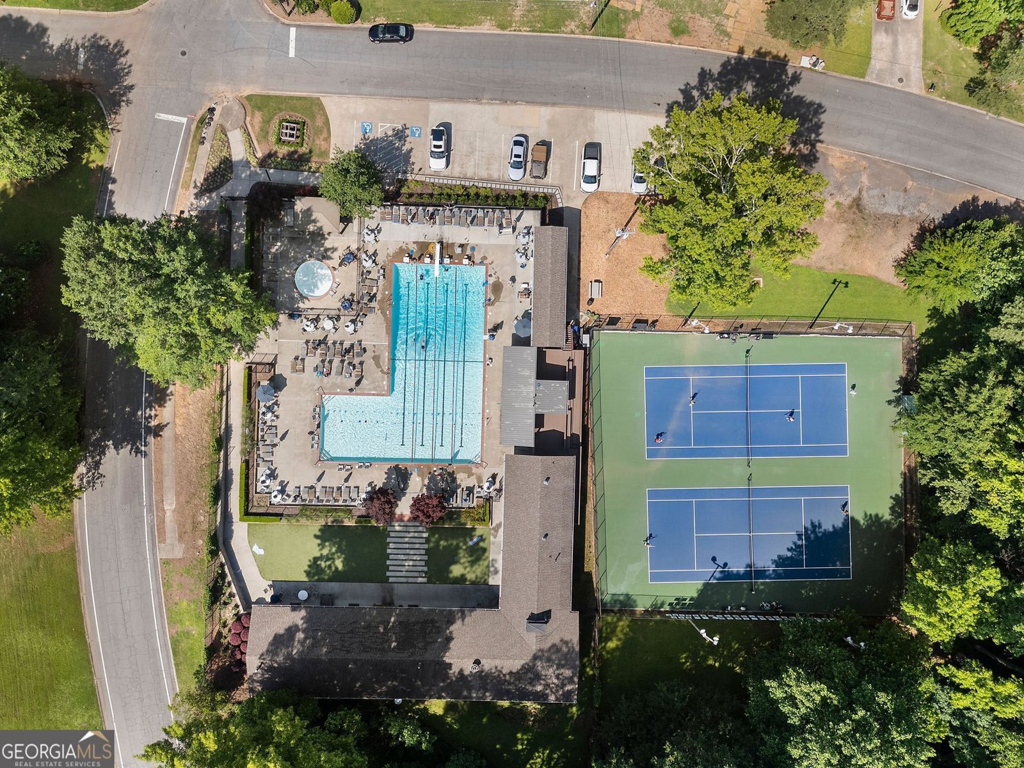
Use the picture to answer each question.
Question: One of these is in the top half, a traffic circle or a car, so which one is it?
car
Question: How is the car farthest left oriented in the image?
from side to side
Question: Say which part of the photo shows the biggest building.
bottom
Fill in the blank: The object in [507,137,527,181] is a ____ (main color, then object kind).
white car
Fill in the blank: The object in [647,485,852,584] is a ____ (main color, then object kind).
blue tennis court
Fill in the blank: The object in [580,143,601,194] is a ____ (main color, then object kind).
white truck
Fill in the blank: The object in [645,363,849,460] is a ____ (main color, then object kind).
blue tennis court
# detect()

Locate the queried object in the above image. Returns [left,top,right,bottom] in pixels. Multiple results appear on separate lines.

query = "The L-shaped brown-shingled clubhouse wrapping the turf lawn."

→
[244,455,581,704]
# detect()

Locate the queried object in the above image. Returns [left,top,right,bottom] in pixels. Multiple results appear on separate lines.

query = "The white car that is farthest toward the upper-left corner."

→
[427,127,447,171]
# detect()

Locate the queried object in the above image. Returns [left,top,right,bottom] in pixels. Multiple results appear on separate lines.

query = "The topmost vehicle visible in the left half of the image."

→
[369,22,411,44]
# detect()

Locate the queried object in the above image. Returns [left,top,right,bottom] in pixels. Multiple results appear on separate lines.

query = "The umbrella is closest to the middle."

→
[513,319,531,338]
